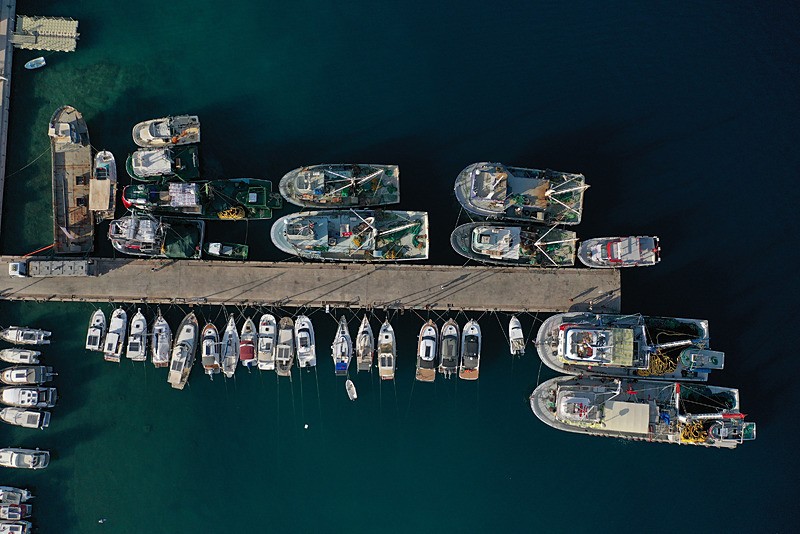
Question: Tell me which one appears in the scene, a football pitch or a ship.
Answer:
ship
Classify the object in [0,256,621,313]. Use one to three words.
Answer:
pier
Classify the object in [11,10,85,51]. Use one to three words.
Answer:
pier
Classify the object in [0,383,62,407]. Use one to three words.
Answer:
boat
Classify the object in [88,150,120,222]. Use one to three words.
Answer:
boat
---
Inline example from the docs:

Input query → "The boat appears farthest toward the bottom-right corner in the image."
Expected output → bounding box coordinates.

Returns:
[705,418,763,445]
